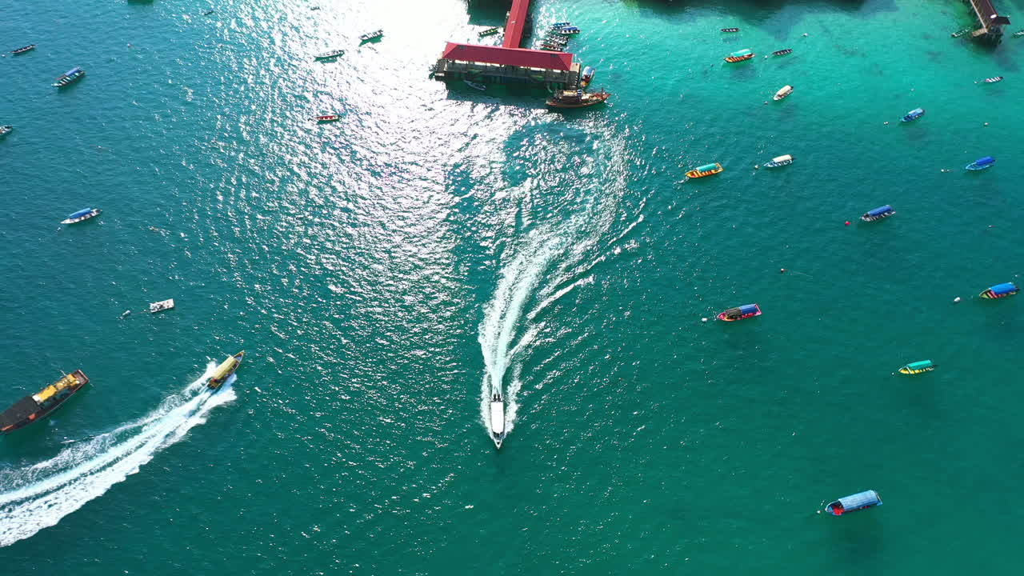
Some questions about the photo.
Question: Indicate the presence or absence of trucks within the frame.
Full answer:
No, this view has no truck in it.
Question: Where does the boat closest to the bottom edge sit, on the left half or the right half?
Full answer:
The boat closest to the bottom edge is on the right side of the image.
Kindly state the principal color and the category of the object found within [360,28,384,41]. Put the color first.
white boat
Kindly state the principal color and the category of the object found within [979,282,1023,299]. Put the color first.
blue boat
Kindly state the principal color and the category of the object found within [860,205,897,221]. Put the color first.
blue boat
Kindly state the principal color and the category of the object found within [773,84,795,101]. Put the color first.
white boat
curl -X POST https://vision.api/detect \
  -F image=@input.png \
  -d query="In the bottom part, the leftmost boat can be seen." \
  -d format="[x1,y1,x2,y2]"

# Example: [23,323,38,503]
[0,370,95,440]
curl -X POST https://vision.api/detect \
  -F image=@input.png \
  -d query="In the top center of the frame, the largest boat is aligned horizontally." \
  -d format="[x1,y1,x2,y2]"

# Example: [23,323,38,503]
[546,82,613,106]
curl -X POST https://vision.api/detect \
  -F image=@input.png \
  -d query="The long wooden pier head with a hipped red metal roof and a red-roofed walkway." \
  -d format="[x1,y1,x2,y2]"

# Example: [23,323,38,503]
[432,0,582,92]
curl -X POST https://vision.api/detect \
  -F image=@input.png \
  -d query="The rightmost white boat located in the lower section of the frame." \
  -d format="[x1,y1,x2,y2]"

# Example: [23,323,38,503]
[489,392,507,451]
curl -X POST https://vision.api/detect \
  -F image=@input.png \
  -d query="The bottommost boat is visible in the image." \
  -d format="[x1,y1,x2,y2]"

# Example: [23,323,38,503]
[825,492,884,515]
